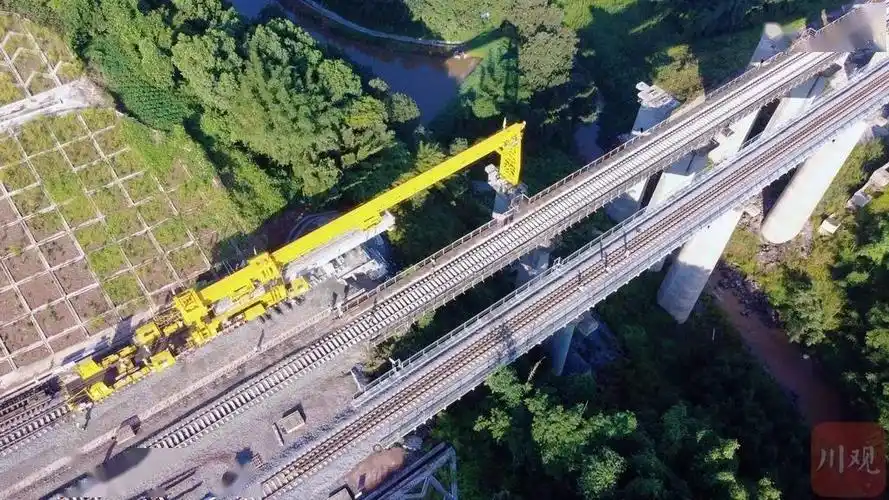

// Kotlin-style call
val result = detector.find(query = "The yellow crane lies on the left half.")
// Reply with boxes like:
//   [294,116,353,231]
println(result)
[43,114,532,422]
